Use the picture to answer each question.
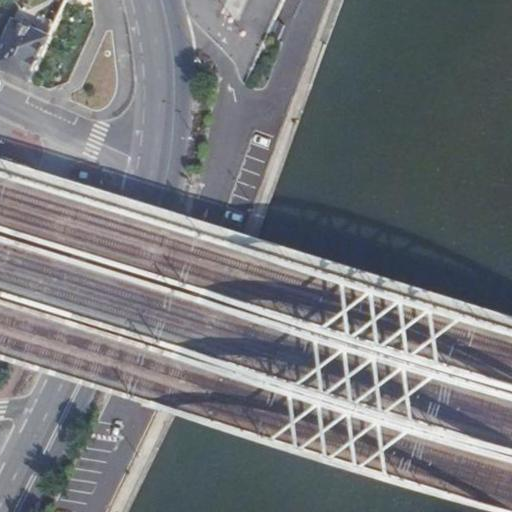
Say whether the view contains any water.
Yes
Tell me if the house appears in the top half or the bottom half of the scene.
top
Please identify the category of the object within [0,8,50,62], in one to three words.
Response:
house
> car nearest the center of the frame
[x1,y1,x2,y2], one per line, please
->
[224,209,244,221]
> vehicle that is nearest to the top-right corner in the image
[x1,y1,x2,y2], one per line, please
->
[252,134,272,148]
